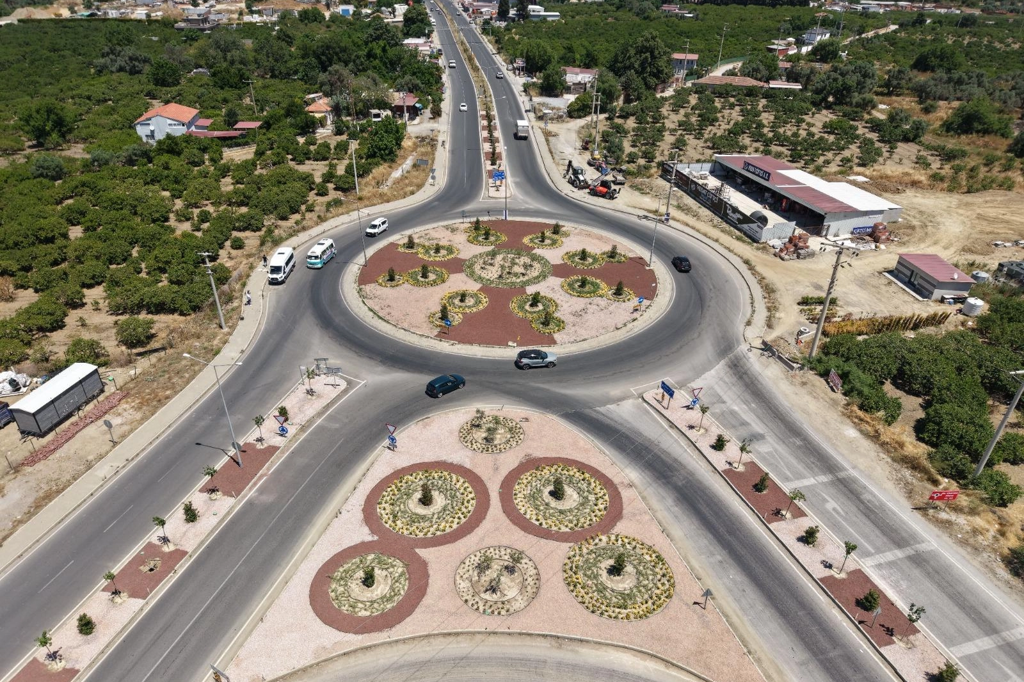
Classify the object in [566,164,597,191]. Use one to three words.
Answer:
work vehicle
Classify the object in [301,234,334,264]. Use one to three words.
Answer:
vehicle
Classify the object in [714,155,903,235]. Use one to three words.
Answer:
building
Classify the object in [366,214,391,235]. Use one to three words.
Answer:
vehicle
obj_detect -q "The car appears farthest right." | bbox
[668,254,696,272]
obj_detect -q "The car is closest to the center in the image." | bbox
[514,347,560,370]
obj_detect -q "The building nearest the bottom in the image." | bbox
[877,250,983,302]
